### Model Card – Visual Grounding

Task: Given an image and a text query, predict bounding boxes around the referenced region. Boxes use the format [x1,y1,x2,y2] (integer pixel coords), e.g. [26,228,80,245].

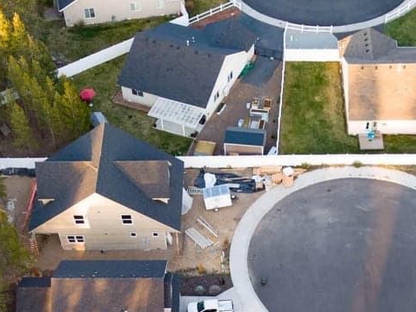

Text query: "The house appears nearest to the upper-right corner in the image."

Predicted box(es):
[336,13,416,148]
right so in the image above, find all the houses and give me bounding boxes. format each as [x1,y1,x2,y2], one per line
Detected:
[29,121,185,250]
[117,15,257,138]
[15,260,181,312]
[56,0,183,25]
[336,13,416,148]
